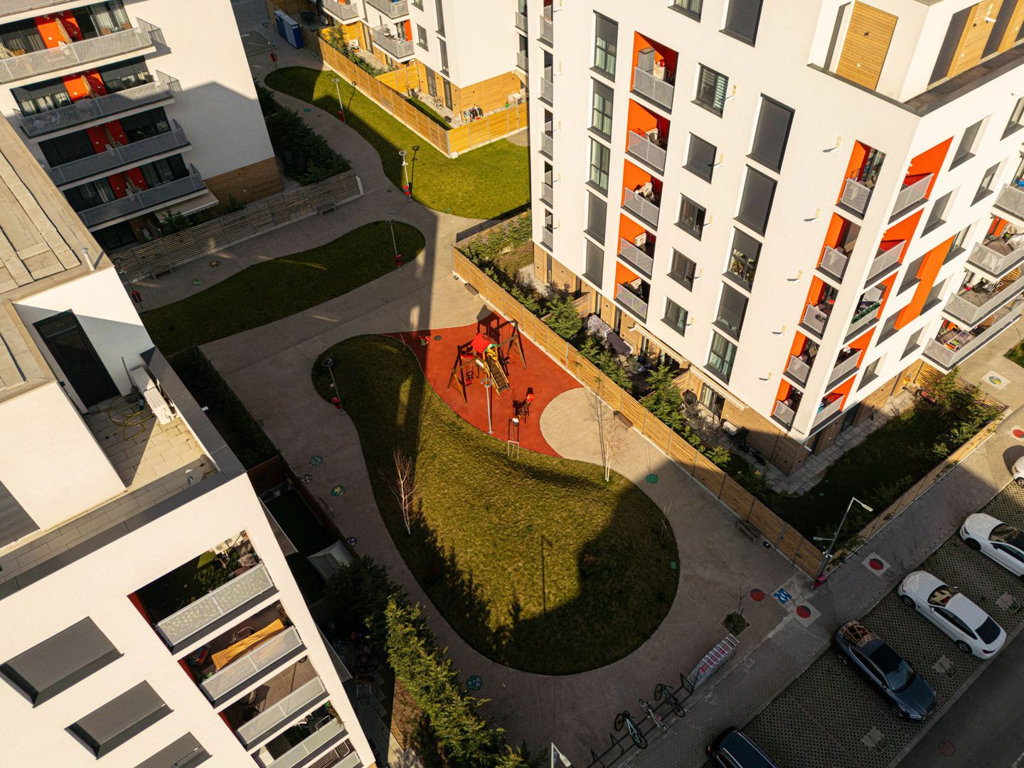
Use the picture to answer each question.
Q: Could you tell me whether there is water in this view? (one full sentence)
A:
No, there is no water in the image.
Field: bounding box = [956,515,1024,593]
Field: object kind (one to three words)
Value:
car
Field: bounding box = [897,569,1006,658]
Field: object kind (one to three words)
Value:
car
